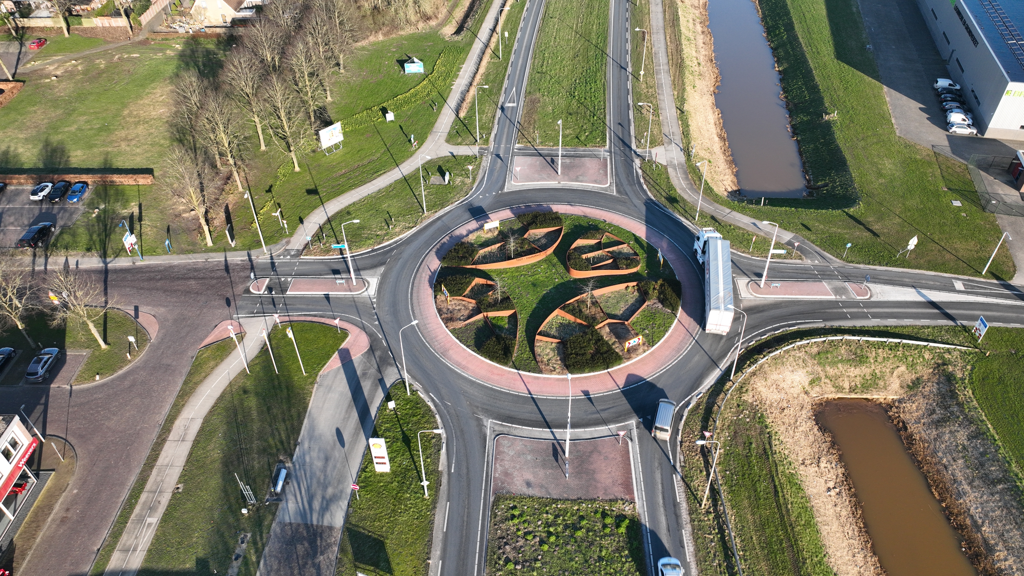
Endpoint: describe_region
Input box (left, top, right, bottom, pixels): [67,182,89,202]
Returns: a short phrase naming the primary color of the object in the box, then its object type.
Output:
blue car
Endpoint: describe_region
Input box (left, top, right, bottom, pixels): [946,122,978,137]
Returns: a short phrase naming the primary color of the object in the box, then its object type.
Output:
white car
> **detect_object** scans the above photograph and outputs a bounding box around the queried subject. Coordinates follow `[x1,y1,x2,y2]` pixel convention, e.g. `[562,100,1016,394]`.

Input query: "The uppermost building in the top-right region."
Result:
[917,0,1024,141]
